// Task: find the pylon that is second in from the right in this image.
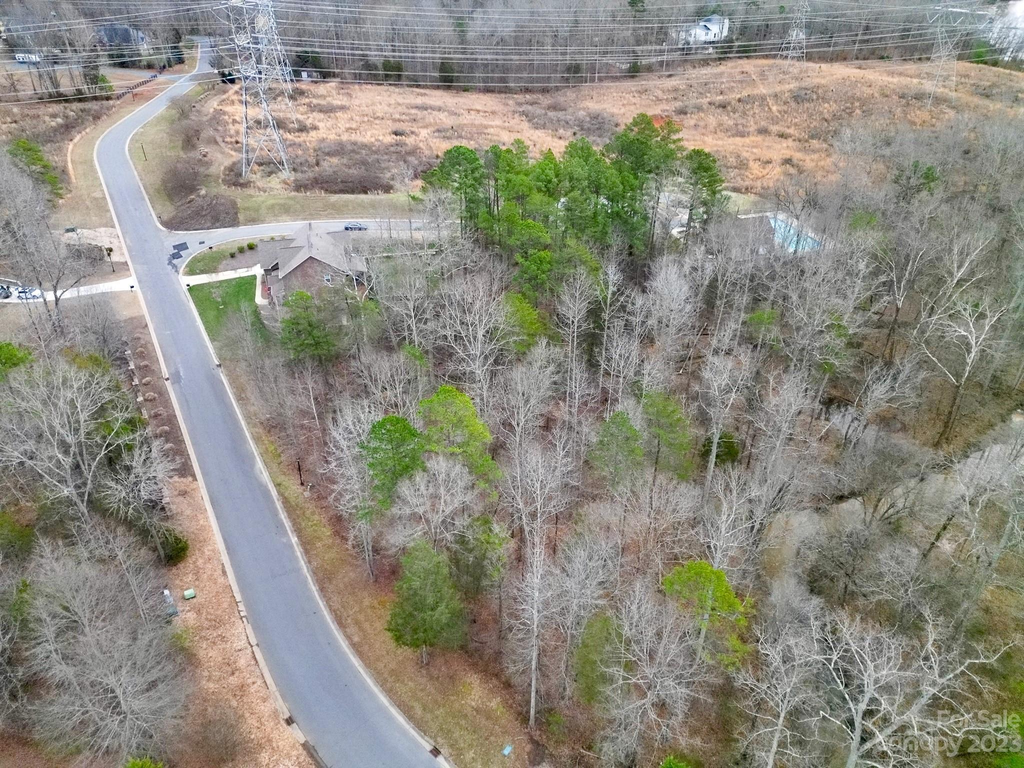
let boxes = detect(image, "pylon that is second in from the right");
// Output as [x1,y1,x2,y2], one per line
[782,0,815,72]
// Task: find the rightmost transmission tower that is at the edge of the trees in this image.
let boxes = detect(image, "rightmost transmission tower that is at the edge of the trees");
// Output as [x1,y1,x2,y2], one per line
[924,0,983,98]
